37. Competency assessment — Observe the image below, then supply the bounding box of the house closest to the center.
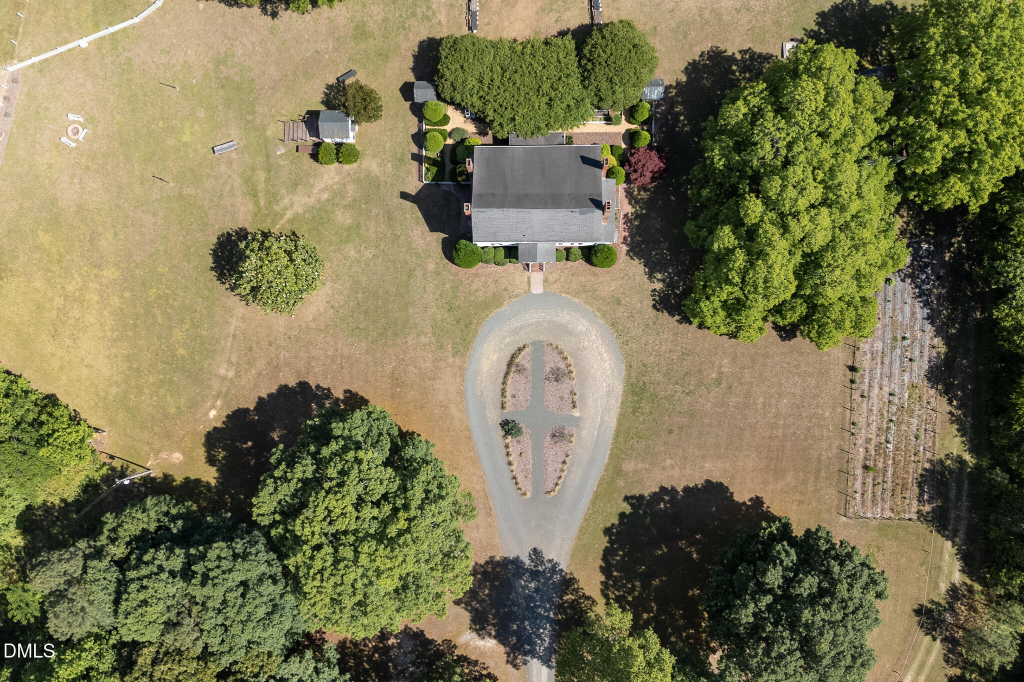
[464,132,616,274]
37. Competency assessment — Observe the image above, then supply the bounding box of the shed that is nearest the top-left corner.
[317,111,354,142]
